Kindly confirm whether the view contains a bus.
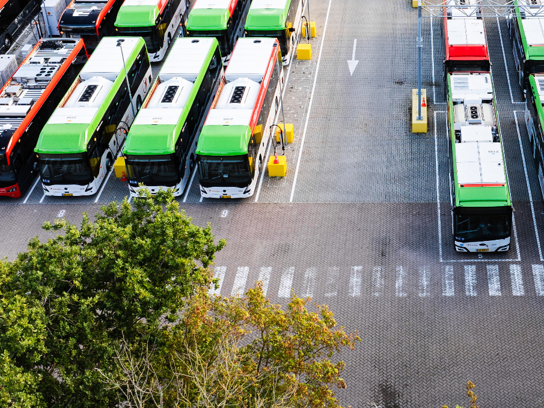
Yes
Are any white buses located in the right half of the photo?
Yes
